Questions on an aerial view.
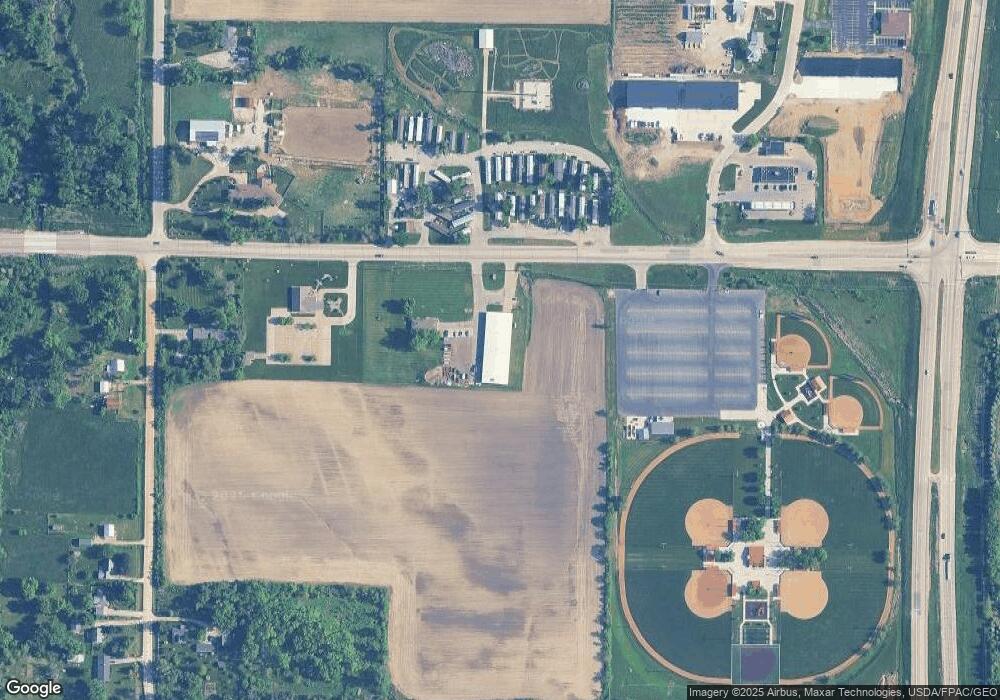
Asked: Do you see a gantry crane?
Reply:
No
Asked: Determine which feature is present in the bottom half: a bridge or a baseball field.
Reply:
baseball field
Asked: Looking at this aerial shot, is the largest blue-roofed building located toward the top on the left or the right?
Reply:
right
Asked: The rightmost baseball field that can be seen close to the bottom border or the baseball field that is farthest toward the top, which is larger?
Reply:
the rightmost baseball field that can be seen close to the bottom border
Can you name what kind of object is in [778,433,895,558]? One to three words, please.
baseball field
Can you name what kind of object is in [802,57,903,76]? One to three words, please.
building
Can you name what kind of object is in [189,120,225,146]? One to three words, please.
barn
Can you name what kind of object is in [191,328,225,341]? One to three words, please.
house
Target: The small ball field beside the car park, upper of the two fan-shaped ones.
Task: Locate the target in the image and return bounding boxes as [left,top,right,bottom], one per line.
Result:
[774,314,831,370]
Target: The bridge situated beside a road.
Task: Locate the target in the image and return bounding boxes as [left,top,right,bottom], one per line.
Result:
[22,230,58,255]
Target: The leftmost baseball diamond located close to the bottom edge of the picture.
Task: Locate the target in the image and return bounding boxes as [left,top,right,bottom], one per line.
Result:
[618,557,733,683]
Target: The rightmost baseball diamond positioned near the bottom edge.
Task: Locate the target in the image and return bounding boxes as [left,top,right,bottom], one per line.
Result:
[781,557,895,683]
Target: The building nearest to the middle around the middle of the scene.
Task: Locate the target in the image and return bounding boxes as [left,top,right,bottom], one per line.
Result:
[480,311,513,385]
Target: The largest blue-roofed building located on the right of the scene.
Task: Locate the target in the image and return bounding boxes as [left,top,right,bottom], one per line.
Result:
[627,80,739,109]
